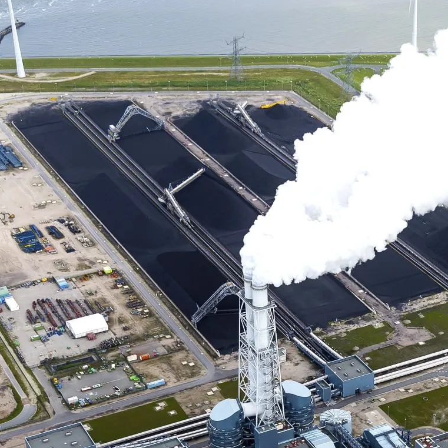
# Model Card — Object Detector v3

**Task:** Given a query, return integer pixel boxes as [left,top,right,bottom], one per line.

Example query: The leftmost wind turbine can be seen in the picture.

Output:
[3,0,29,79]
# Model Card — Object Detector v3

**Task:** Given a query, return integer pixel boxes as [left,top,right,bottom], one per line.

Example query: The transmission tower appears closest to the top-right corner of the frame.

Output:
[348,51,365,96]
